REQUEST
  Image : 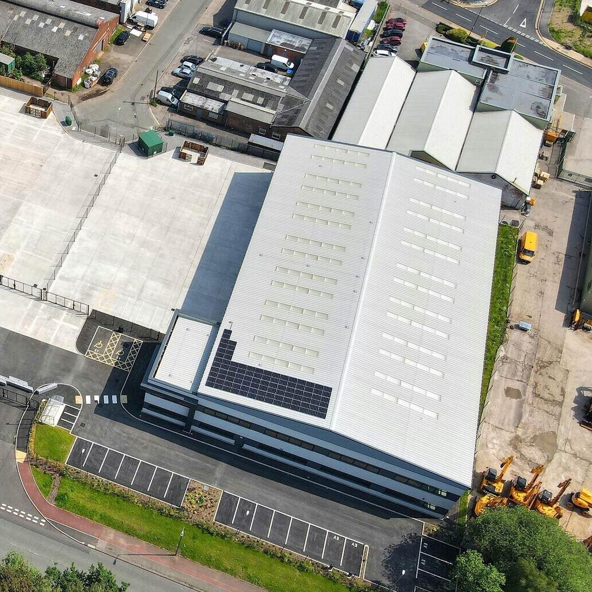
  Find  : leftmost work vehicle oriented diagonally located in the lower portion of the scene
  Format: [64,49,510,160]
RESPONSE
[476,455,521,494]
